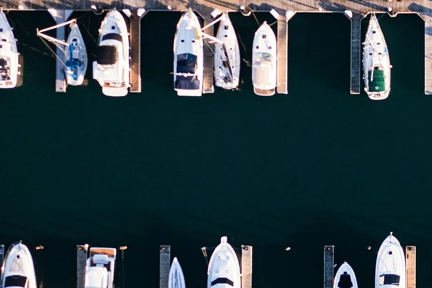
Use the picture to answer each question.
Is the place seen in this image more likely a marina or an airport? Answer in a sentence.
The picture captures a marina.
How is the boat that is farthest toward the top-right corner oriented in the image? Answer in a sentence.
What the image shows is the boat that is farthest toward the top-right corner lying up and down.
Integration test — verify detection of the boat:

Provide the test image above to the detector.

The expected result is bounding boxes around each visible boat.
[36,18,88,86]
[333,260,358,288]
[86,248,116,288]
[0,241,40,288]
[360,14,392,100]
[94,9,133,97]
[252,21,277,96]
[173,9,205,96]
[199,10,241,90]
[375,233,406,288]
[0,9,19,88]
[208,236,241,288]
[170,258,186,288]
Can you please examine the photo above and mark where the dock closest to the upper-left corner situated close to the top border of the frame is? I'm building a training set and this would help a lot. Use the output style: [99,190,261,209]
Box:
[54,10,75,92]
